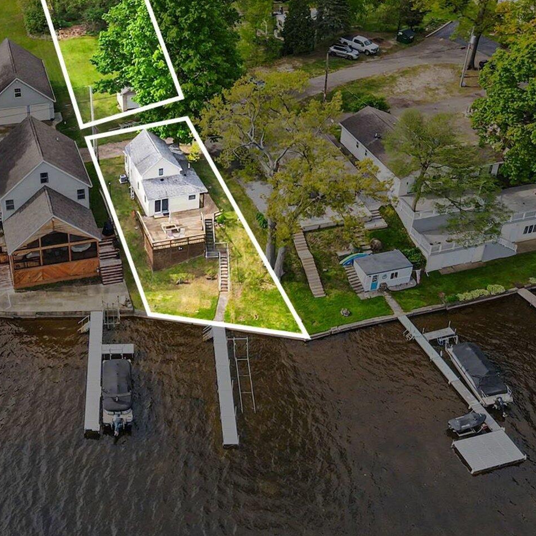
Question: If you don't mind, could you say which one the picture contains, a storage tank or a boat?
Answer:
boat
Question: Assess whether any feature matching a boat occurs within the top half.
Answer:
No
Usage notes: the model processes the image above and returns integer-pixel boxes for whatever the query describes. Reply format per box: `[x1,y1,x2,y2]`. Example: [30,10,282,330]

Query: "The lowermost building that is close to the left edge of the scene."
[0,117,105,289]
